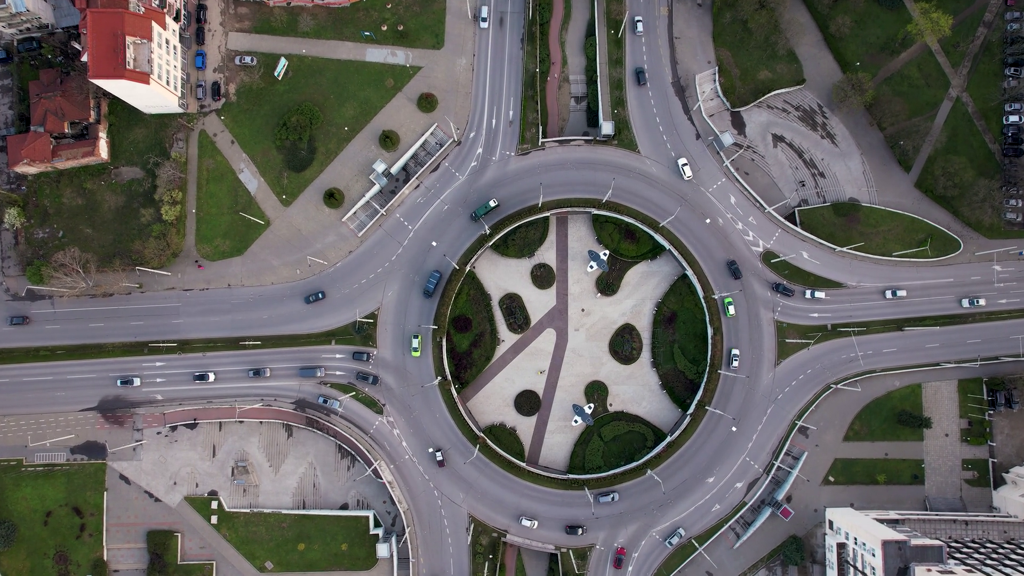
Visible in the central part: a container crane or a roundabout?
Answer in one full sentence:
The feature located in the central part is a roundabout.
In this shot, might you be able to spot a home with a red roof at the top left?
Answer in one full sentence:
Yes, a home with a red roof shows up at the top left.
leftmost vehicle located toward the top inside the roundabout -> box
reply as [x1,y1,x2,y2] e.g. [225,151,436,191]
[470,198,499,222]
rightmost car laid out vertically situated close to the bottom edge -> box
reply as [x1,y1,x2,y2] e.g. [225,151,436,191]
[613,545,626,570]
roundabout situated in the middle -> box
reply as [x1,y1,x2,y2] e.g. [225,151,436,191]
[379,149,776,547]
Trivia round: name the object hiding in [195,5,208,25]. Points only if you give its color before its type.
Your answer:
black vehicle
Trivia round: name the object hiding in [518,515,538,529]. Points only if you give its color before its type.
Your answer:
white car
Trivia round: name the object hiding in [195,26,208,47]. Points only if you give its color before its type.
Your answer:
black vehicle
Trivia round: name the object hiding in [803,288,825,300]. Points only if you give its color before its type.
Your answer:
white vehicle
